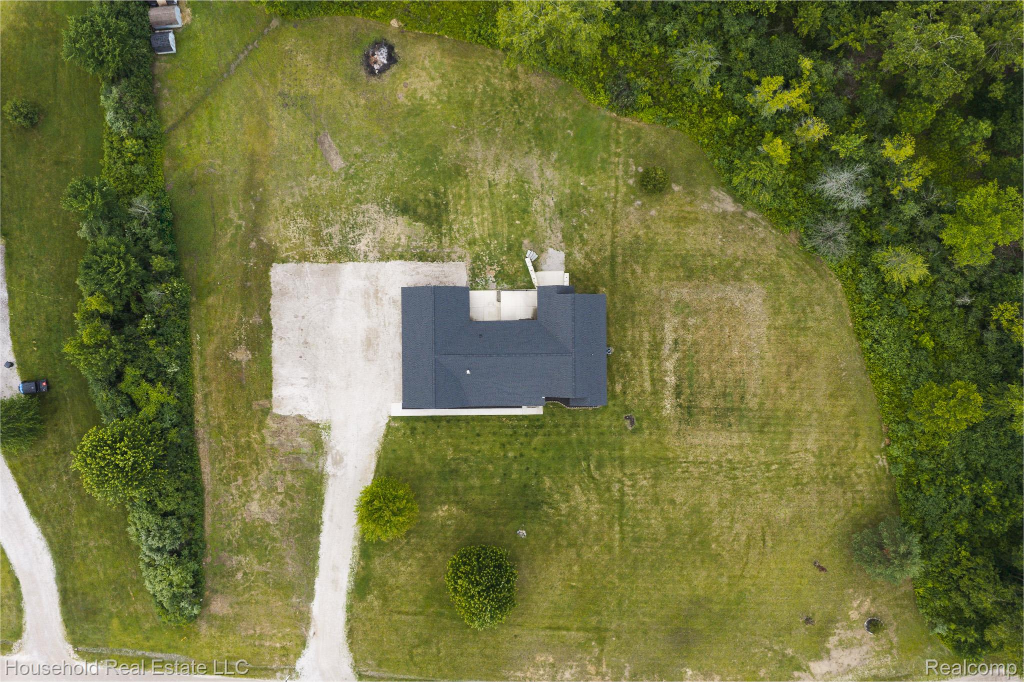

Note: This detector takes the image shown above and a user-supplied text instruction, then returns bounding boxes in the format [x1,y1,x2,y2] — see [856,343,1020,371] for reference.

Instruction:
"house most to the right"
[401,286,608,411]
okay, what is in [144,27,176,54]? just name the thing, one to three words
shed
